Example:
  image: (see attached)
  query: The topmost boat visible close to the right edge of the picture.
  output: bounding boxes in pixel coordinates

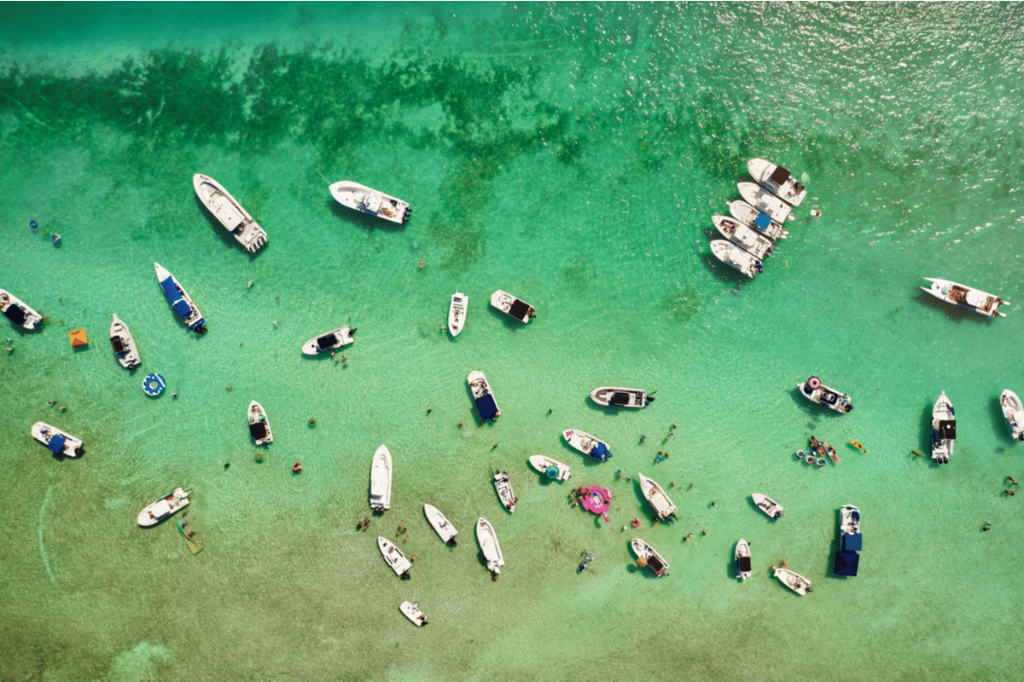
[916,277,1010,318]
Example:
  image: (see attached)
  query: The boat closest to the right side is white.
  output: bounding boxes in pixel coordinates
[996,389,1024,441]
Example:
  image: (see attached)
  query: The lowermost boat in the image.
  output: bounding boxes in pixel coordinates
[400,601,428,626]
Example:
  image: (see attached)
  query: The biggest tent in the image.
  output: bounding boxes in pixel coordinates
[827,547,859,576]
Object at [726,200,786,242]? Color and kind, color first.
white boat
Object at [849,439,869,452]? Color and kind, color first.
orange boat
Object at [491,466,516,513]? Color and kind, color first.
white boat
